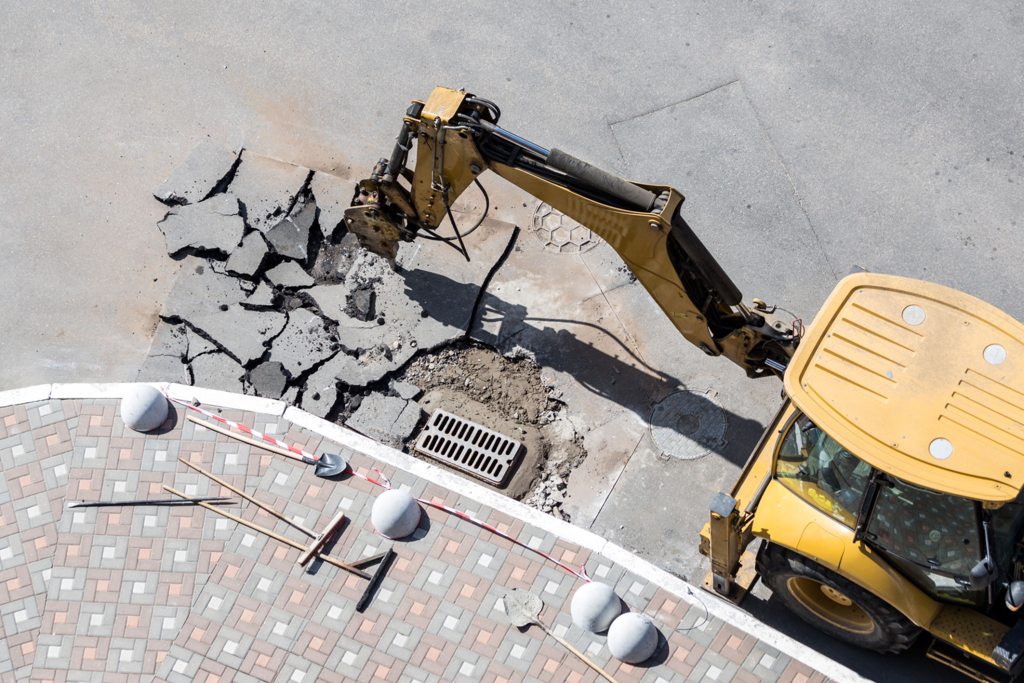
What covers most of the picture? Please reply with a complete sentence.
The scene is dominated by paved ground.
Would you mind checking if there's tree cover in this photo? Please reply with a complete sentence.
No, the picture contains no tree cover.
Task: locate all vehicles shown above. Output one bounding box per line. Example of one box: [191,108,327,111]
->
[345,85,1024,683]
